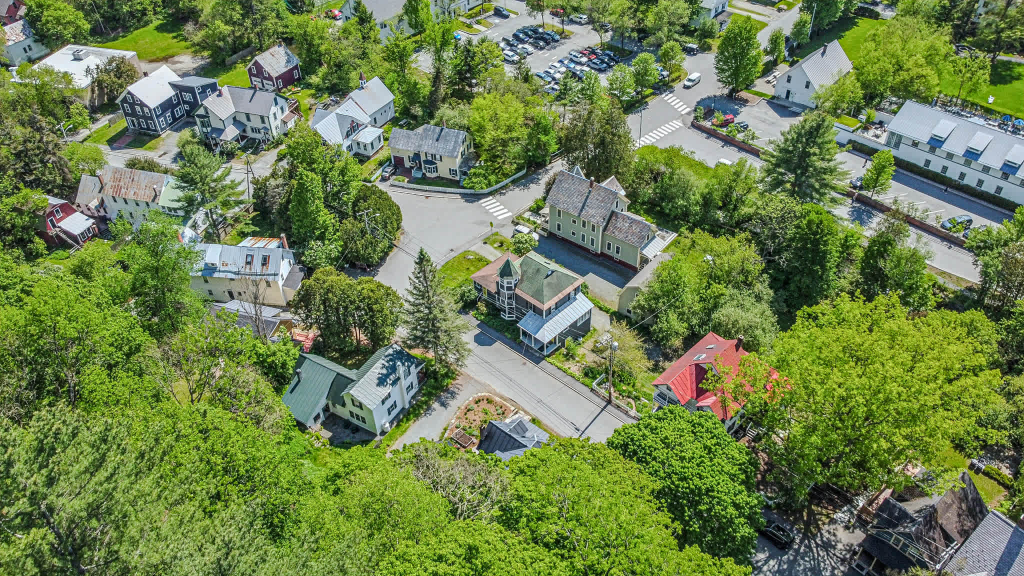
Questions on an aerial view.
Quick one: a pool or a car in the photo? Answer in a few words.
car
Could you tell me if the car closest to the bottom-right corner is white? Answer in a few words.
No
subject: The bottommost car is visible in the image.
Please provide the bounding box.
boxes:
[756,513,801,552]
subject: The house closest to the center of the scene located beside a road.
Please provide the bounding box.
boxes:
[465,248,600,359]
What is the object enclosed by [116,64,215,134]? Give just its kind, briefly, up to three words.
house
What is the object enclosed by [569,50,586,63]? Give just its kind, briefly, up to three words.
vehicle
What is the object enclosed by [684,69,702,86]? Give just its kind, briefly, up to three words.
vehicle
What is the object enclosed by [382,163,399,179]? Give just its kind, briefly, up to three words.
car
